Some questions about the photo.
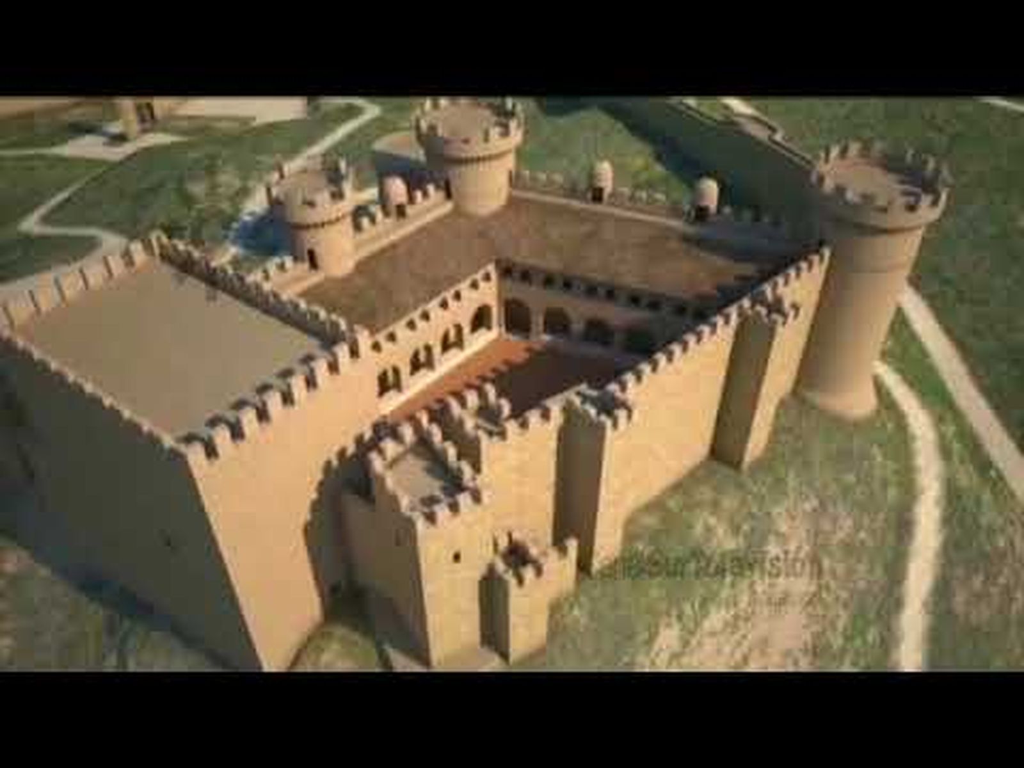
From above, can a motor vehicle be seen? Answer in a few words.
No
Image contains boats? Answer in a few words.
No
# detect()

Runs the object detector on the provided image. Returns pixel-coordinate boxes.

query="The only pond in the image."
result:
[231,213,289,252]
